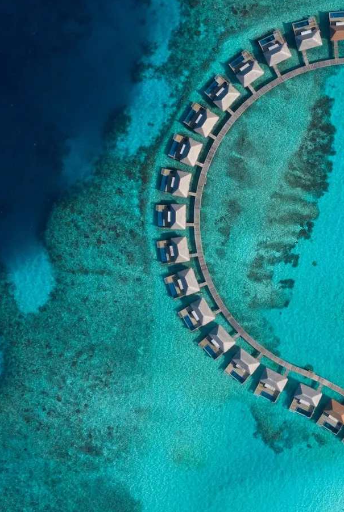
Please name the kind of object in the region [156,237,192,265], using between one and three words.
house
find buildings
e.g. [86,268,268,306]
[198,325,236,361]
[292,16,323,52]
[164,268,202,300]
[257,29,293,68]
[287,382,322,419]
[202,73,242,112]
[159,168,193,197]
[315,398,344,437]
[224,348,261,386]
[166,133,204,166]
[182,101,221,137]
[178,297,216,334]
[253,367,289,405]
[155,203,189,229]
[328,11,344,42]
[227,49,265,88]
[156,237,192,265]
